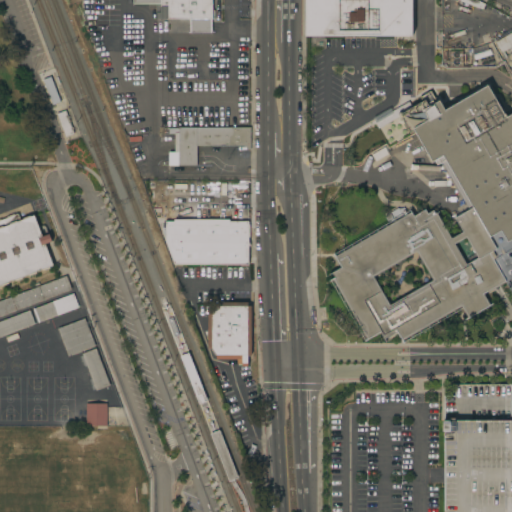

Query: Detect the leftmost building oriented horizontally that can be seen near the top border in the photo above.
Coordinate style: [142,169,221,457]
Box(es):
[133,0,214,33]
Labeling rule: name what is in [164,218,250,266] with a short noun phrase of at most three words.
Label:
building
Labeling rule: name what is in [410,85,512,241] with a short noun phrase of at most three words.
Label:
building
